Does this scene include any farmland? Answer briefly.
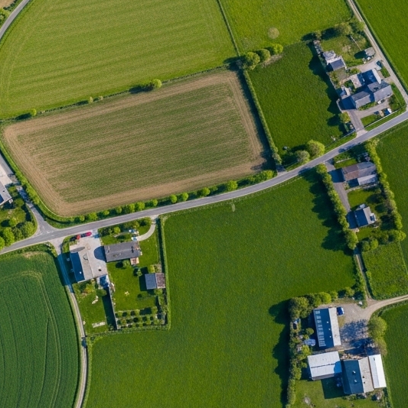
Yes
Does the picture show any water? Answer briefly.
No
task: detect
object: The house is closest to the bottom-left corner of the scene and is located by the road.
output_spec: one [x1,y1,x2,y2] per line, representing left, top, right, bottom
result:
[66,247,102,281]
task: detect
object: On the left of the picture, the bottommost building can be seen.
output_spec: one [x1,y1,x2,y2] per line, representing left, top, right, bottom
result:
[144,271,166,290]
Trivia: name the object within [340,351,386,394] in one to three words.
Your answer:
barn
